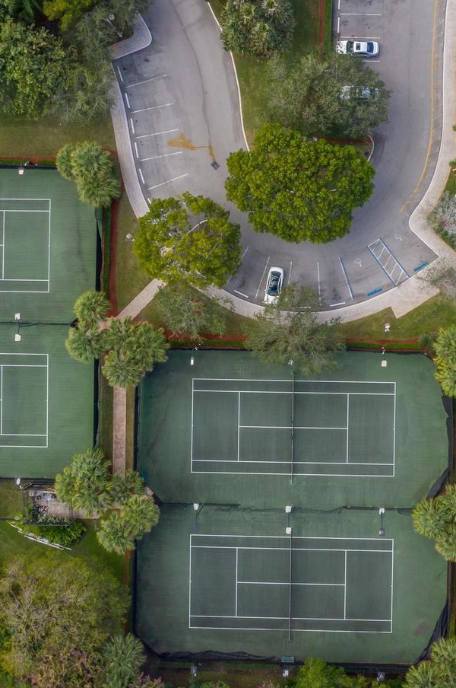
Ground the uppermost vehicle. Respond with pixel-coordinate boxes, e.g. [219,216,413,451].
[337,38,379,58]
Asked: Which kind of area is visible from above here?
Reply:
sports ground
